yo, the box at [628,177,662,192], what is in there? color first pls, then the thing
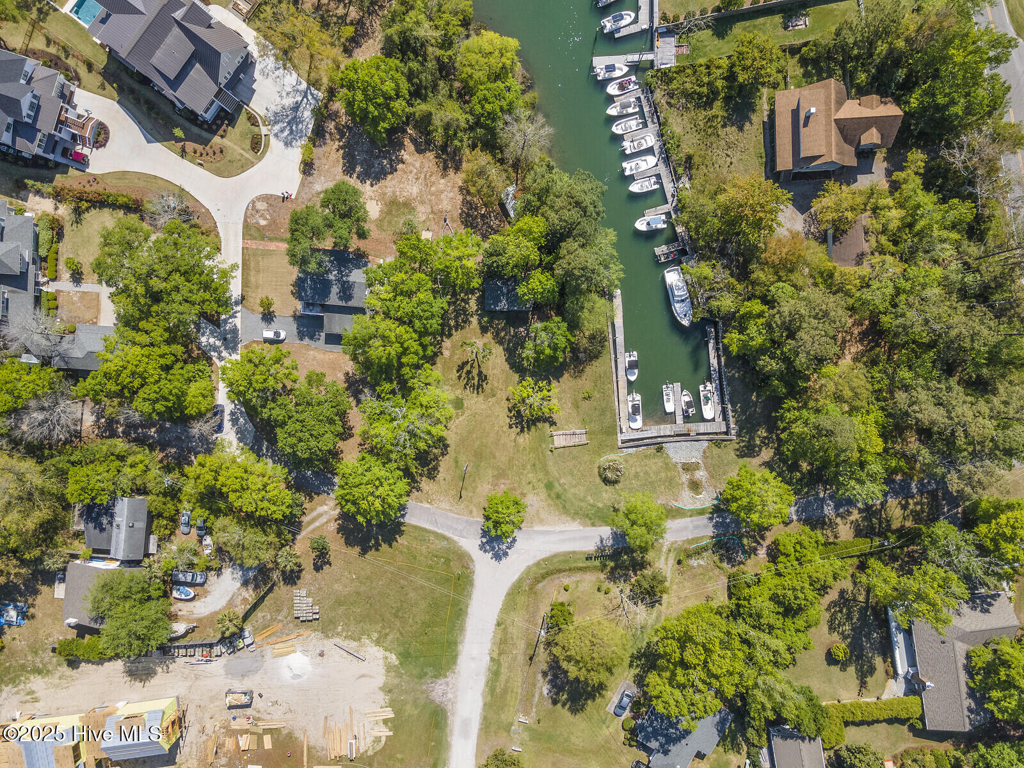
white boat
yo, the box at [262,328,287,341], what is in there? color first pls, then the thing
white vehicle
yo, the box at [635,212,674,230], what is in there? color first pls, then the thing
white boat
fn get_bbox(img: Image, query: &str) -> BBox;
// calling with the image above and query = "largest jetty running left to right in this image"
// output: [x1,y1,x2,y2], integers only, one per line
[621,421,727,440]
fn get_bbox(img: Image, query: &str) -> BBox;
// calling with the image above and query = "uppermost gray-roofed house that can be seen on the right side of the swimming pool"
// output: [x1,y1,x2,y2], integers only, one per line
[87,0,257,128]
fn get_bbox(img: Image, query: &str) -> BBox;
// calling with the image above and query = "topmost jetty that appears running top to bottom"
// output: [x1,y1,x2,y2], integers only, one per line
[613,87,693,256]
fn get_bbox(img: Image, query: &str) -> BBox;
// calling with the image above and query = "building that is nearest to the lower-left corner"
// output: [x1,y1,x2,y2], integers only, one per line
[0,694,191,768]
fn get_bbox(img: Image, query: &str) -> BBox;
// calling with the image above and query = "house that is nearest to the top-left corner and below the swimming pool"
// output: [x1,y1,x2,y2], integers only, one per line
[0,50,103,162]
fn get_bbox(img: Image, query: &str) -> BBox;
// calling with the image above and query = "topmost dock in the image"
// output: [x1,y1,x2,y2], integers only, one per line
[615,0,652,39]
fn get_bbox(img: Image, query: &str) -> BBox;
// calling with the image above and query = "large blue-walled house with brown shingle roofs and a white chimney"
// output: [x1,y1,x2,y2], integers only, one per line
[769,79,904,183]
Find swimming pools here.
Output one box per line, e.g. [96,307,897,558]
[66,0,103,28]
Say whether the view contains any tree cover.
Yes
